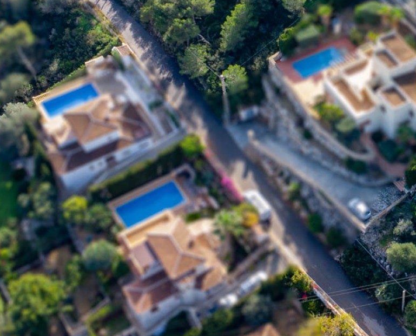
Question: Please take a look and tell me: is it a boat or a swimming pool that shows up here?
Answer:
swimming pool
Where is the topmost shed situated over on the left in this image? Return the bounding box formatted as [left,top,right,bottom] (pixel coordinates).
[116,43,136,67]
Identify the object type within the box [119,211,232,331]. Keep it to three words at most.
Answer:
house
